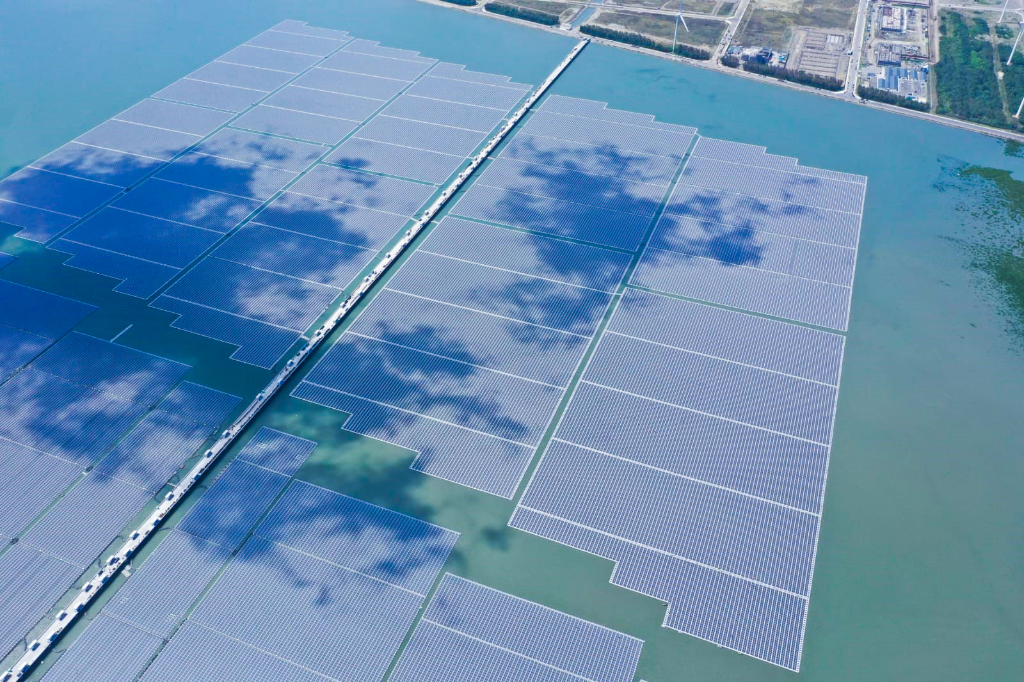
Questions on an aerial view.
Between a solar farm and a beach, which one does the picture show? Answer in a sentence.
This looks like a solar farm.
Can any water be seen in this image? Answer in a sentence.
Yes, water can be seen from above here.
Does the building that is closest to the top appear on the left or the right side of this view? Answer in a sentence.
It is on the right.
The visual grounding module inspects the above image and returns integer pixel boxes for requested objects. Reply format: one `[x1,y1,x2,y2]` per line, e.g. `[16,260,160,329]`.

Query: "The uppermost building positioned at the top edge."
[879,5,903,35]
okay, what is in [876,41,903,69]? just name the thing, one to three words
building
